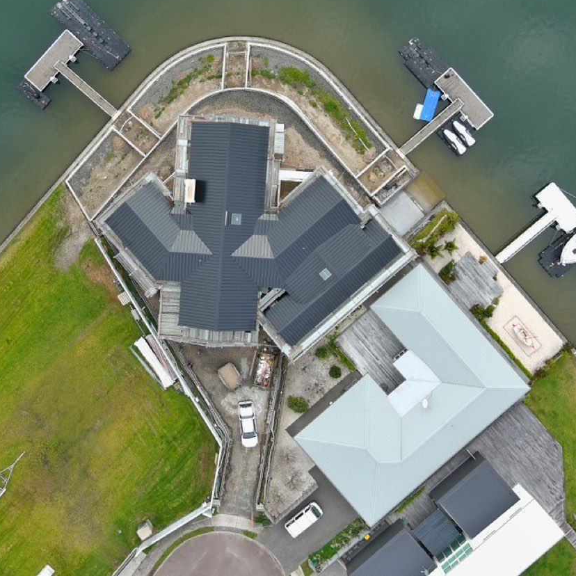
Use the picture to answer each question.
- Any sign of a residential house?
Yes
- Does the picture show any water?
Yes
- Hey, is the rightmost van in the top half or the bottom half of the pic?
bottom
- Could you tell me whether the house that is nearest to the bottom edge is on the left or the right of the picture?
right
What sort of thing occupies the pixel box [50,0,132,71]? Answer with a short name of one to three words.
pier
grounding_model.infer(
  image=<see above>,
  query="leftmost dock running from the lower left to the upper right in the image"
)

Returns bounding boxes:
[24,29,84,91]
